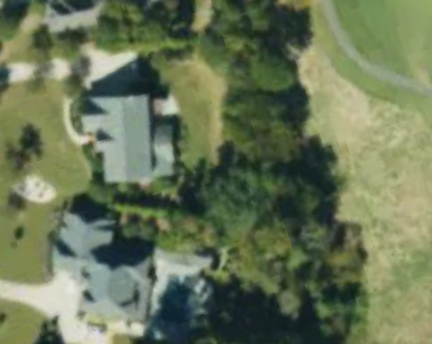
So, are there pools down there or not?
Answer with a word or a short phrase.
Yes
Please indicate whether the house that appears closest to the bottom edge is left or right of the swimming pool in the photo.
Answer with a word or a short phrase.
to its left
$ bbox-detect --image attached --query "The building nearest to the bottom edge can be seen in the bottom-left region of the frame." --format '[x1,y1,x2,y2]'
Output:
[53,209,157,323]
